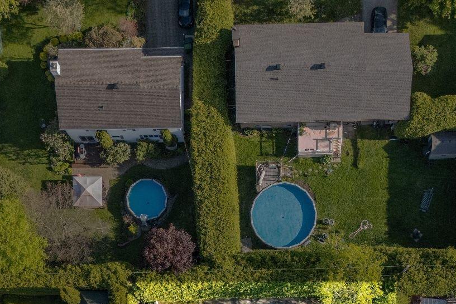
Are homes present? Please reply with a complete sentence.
Yes, the picture does show a home.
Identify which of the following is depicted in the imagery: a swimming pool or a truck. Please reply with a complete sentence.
Of the two, only a swimming pool appears.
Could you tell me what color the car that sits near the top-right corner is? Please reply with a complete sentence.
In this view, the car that sits near the top-right corner is black.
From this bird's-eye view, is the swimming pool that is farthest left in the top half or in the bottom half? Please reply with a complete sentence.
You can find the swimming pool that is farthest left in the bottom half.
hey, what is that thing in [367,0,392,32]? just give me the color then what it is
black car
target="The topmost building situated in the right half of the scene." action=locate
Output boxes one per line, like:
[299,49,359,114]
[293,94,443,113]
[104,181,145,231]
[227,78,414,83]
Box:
[230,21,412,130]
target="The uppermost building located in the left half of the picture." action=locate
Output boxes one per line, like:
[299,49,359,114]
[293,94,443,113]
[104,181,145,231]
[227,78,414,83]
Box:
[48,47,184,141]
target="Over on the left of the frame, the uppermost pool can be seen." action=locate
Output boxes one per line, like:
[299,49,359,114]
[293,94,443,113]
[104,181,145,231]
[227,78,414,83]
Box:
[126,178,168,226]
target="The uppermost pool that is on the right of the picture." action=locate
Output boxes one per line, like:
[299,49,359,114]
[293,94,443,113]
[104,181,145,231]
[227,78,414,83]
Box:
[250,183,317,250]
